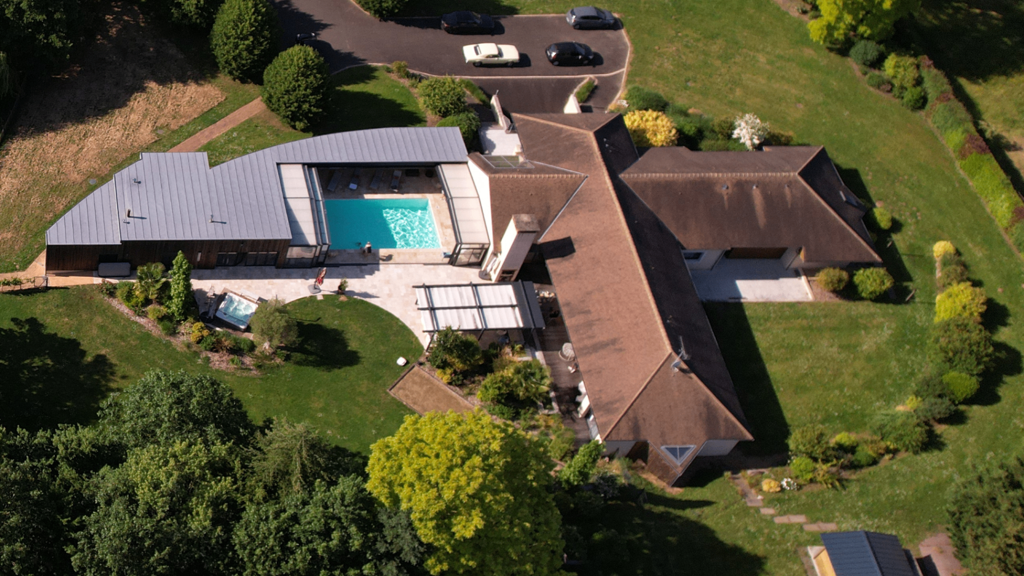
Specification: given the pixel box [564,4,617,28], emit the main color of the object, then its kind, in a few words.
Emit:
gray car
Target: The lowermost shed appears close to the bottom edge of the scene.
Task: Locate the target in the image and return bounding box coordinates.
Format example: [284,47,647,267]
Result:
[803,530,915,576]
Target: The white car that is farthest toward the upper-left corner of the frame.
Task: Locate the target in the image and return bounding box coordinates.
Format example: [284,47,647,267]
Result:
[460,41,522,65]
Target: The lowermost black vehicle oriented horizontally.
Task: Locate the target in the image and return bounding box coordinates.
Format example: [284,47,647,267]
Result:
[543,39,595,63]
